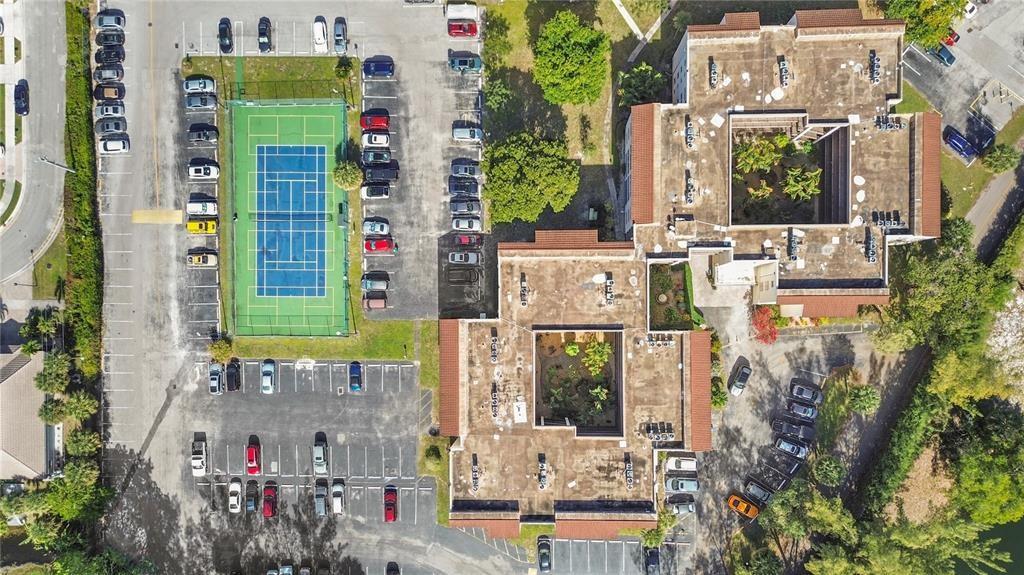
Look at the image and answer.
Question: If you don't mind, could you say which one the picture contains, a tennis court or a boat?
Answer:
tennis court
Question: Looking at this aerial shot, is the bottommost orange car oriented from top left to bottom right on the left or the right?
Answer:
right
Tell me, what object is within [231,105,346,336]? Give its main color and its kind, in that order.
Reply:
green tennis court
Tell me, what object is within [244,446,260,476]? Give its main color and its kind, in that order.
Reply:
red car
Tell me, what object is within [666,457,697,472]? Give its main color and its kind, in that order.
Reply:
white car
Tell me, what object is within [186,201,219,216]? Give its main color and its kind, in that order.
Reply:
white vehicle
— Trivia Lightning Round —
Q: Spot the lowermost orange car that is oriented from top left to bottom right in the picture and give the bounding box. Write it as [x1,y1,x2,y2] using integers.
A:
[727,494,758,518]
